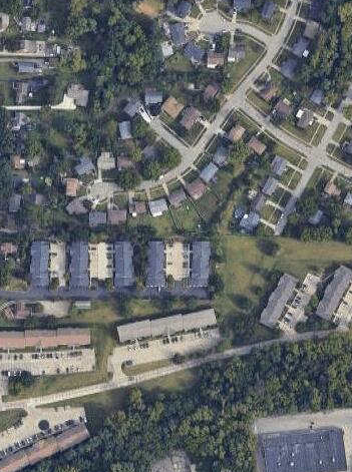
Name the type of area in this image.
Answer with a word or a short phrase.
residential area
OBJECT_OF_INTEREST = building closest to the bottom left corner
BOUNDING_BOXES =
[0,424,89,472]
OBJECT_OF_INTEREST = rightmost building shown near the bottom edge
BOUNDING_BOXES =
[262,427,347,472]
